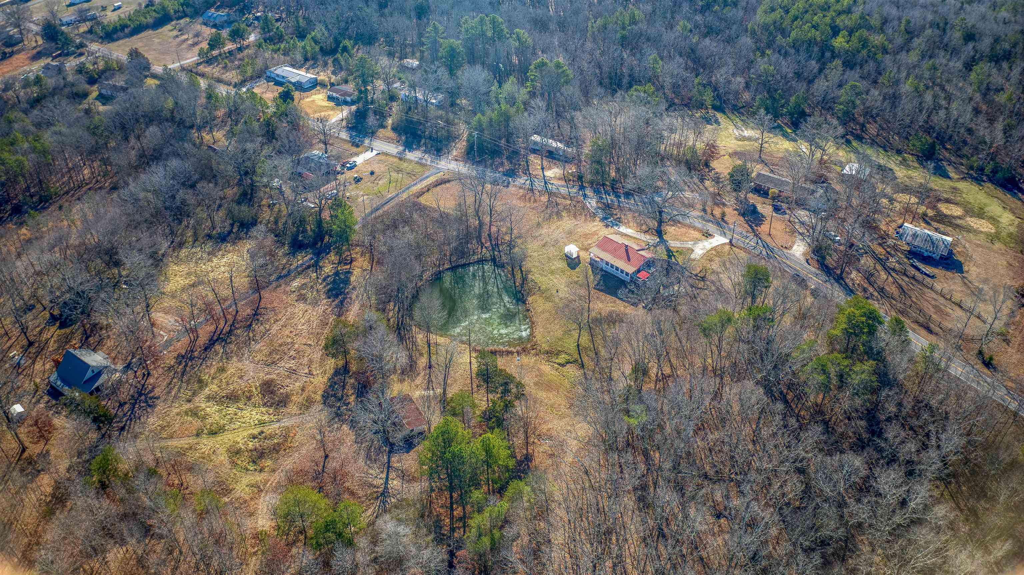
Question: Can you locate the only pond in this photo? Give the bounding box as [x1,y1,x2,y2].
[409,260,533,347]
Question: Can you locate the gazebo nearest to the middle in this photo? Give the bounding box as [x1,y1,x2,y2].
[564,243,582,260]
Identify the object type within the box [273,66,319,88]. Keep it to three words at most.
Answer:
house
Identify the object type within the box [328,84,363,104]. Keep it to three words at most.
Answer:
house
